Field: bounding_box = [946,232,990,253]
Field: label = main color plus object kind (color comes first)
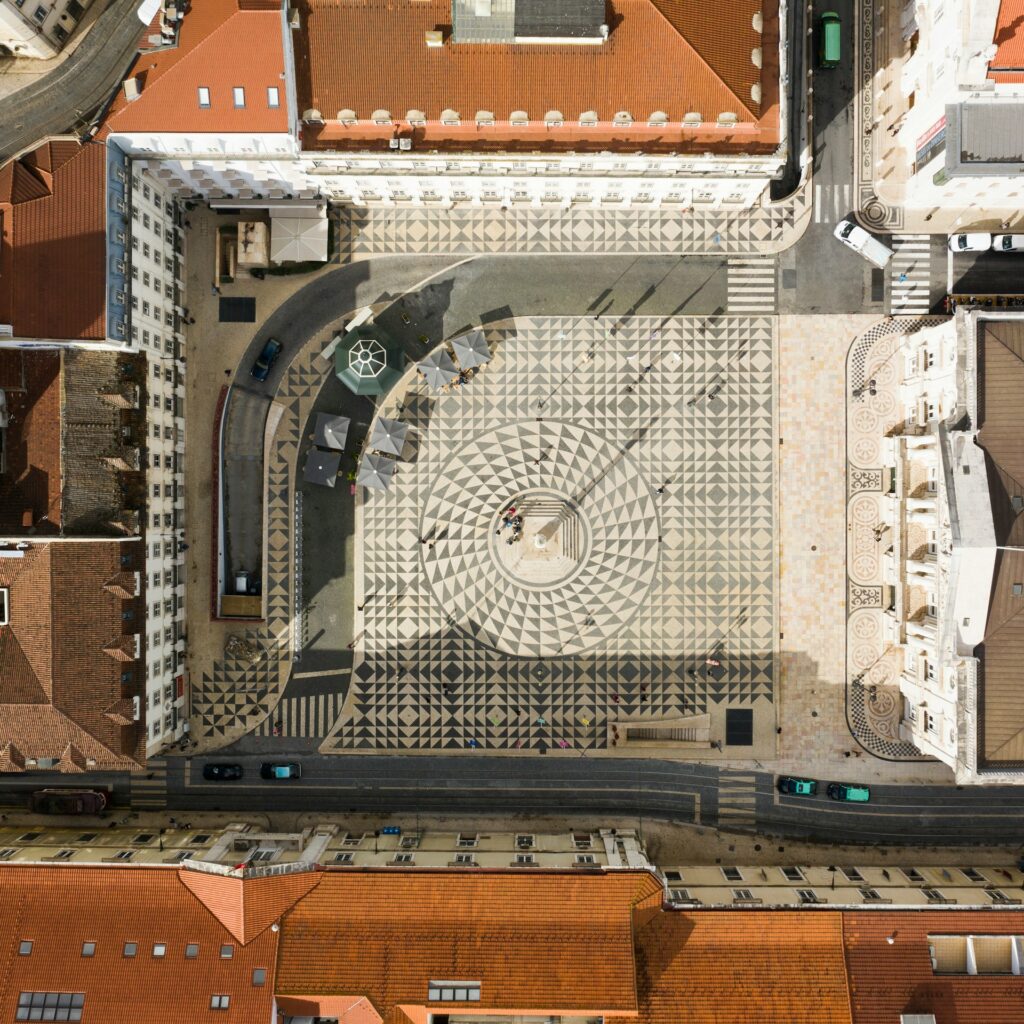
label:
white car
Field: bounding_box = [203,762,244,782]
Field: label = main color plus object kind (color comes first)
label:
black car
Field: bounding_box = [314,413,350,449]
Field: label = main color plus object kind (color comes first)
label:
gray umbrella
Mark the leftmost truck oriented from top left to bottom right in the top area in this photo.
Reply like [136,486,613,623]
[833,222,894,272]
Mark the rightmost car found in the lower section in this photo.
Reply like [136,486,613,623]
[825,780,870,801]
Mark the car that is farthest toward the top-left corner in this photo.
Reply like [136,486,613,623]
[251,339,284,382]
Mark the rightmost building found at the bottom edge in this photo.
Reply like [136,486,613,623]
[816,861,1024,1024]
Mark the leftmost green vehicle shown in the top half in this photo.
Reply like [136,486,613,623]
[818,14,842,75]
